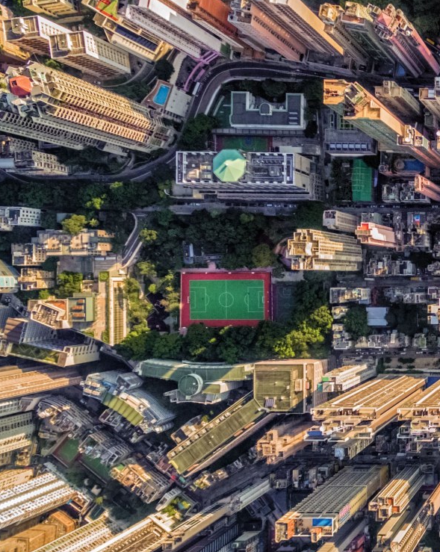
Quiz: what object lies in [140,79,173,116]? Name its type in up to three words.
swimming pool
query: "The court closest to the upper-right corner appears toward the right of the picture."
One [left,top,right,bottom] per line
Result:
[352,159,372,201]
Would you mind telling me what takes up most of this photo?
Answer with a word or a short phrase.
buildings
